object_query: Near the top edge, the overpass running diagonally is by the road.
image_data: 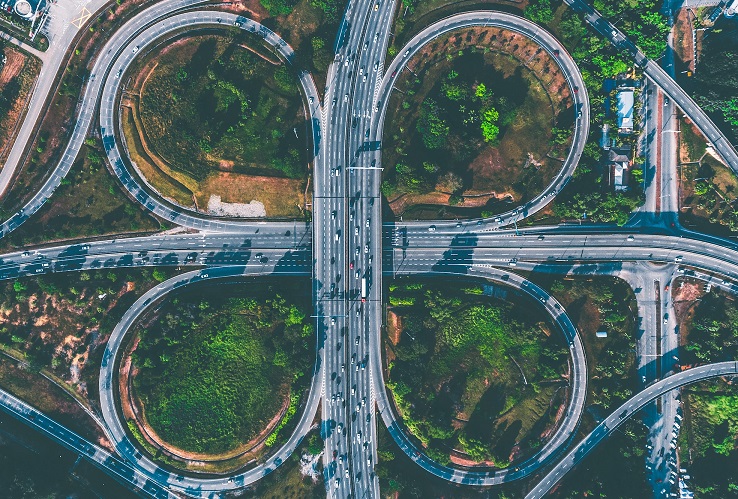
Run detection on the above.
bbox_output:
[562,0,738,174]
